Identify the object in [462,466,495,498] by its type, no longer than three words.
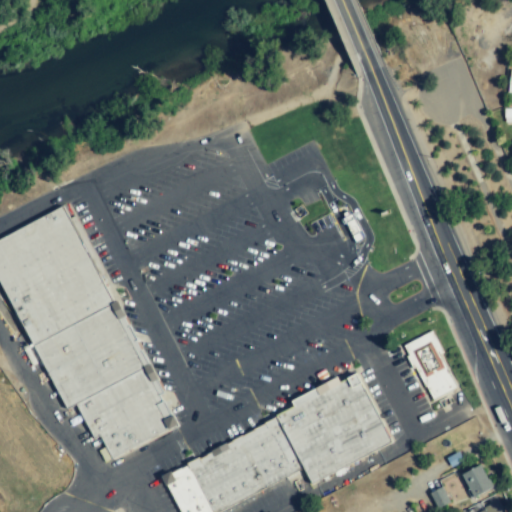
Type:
house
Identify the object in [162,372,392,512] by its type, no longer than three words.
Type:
building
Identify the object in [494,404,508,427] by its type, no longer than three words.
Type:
vehicle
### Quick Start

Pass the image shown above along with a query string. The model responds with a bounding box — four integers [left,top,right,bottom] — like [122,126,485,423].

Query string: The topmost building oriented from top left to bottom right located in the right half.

[344,212,367,242]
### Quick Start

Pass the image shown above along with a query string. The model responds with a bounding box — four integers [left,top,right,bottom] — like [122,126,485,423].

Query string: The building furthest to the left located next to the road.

[0,207,179,462]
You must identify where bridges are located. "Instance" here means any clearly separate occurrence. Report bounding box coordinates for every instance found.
[326,0,391,84]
